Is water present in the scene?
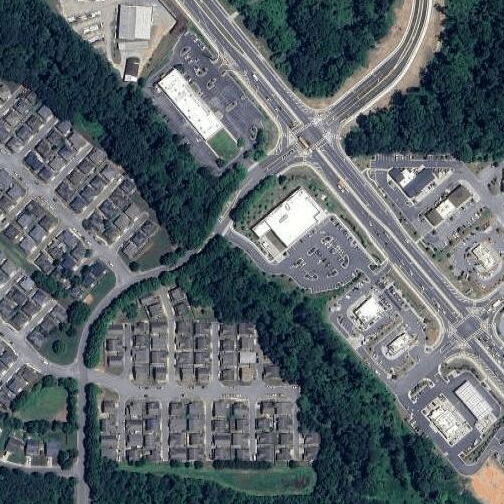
No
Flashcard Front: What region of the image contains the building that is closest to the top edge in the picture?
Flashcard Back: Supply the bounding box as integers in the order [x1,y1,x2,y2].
[117,6,151,39]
